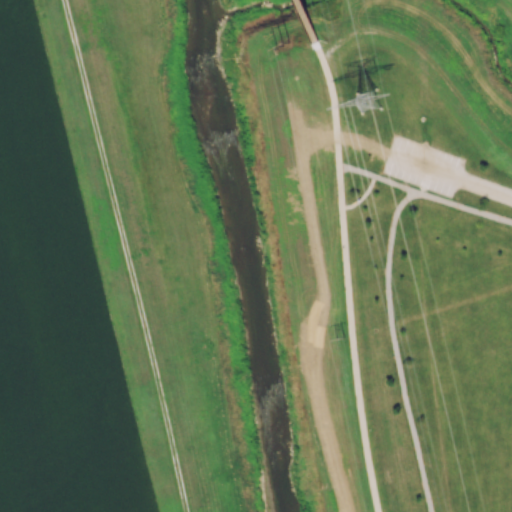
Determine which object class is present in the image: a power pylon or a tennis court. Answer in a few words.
power pylon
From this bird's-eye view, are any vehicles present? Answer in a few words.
No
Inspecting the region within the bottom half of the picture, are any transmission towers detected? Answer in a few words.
No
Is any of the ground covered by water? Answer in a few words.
Yes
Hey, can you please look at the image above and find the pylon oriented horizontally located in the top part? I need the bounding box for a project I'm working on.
[325,88,390,114]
